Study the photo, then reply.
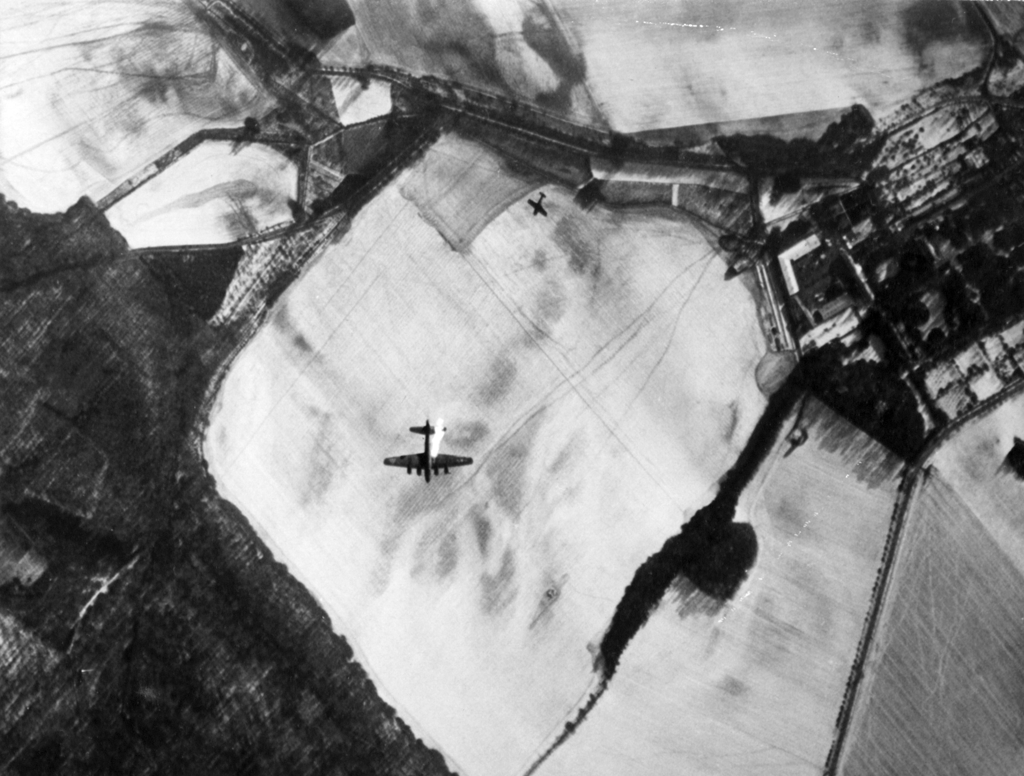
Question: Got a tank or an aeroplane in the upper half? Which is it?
aeroplane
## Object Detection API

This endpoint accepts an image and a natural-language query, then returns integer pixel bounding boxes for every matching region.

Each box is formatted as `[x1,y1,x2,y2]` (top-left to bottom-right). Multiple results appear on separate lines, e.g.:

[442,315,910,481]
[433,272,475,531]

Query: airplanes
[528,194,547,218]
[383,420,473,483]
